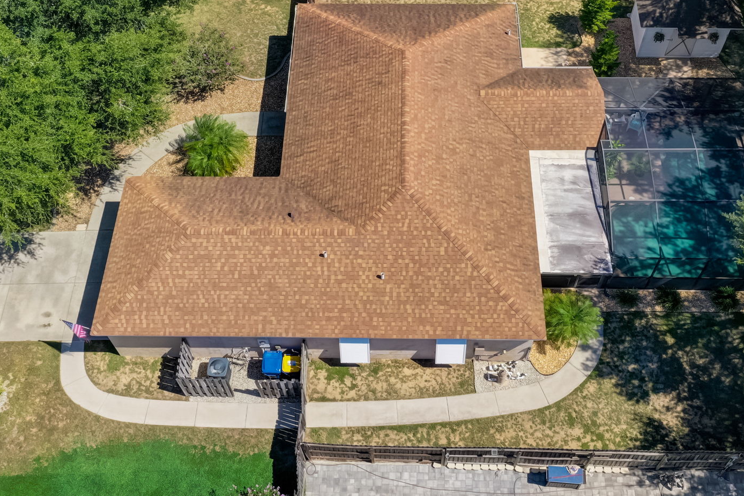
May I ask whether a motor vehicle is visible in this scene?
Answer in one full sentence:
No, there isn't any motor vehicle down there.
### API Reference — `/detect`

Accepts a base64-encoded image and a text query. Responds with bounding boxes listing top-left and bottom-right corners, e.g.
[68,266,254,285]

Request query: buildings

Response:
[90,1,615,365]
[628,0,743,57]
